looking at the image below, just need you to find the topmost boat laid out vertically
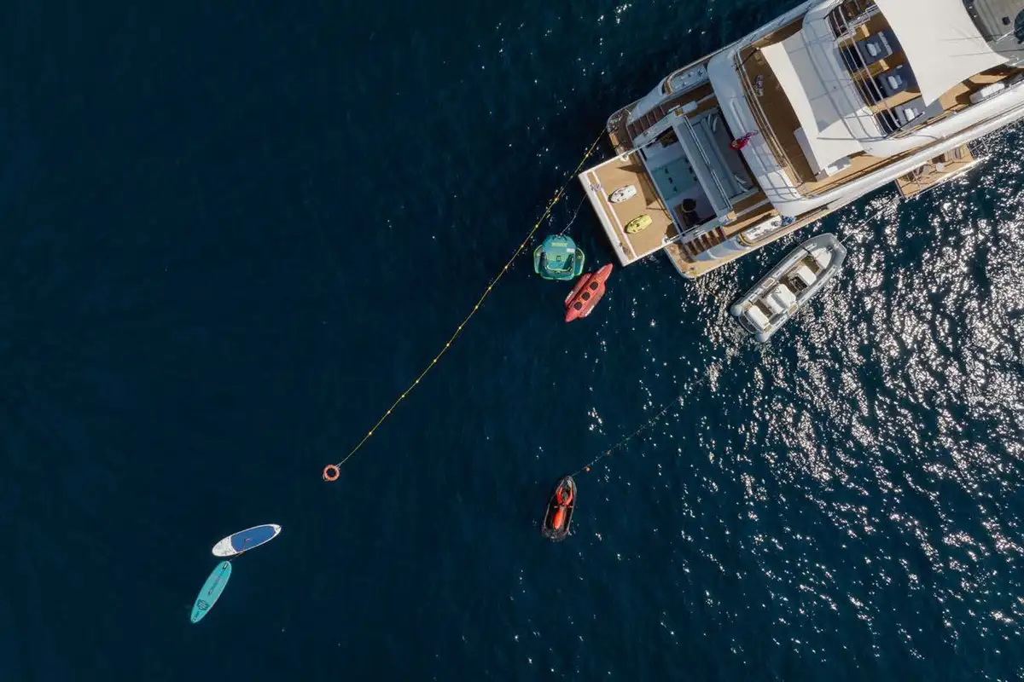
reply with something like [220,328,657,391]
[543,475,576,540]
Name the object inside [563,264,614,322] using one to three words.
boat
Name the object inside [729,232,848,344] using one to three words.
boat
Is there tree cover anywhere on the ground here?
No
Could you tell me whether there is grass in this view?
No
